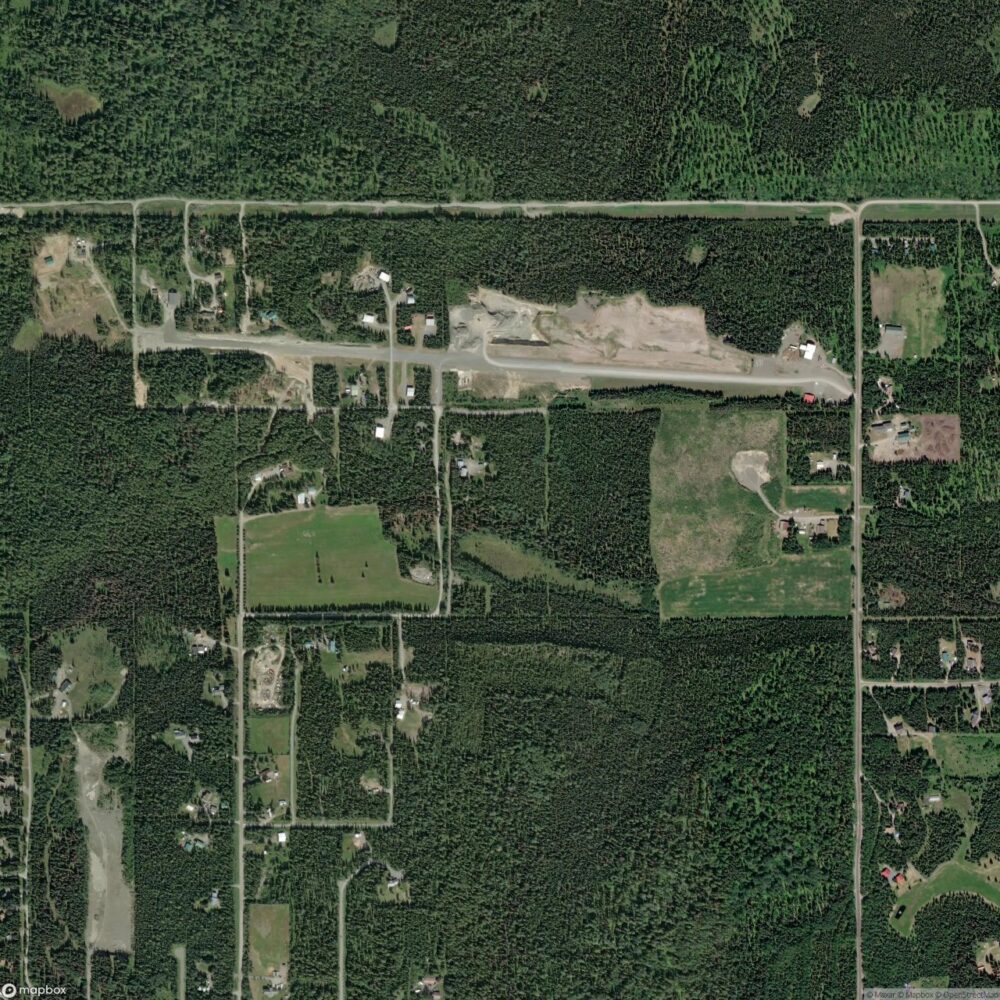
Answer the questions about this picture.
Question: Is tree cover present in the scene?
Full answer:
Yes, tree cover can be seen from above here.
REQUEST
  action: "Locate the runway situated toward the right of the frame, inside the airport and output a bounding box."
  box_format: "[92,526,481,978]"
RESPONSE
[492,360,815,384]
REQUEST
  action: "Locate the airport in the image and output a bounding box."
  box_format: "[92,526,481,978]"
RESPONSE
[133,303,857,408]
